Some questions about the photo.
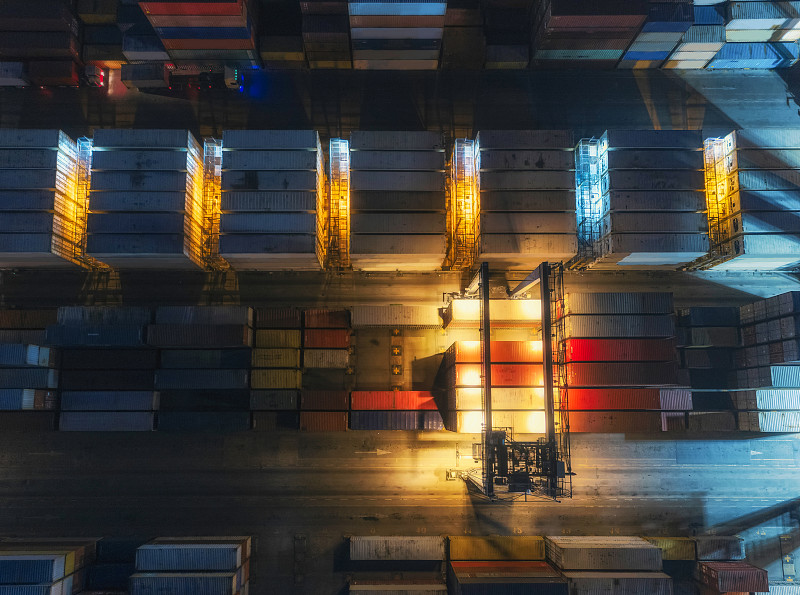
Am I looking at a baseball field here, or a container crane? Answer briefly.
container crane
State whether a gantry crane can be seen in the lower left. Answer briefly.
No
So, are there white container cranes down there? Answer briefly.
No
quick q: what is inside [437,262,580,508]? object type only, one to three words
container crane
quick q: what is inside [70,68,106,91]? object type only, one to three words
truck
